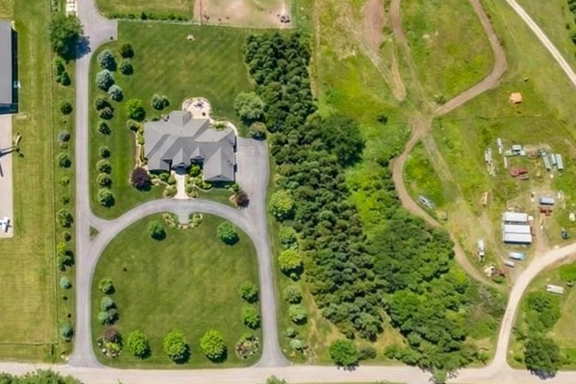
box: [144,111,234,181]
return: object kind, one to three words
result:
house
